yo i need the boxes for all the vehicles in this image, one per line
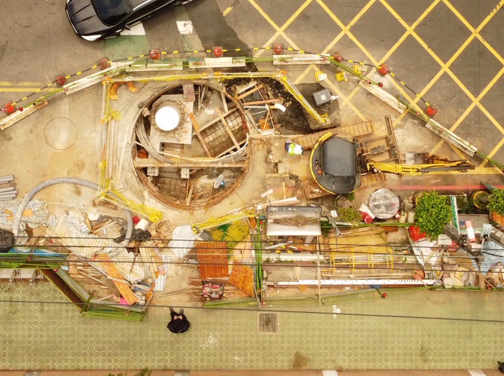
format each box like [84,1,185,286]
[65,0,199,40]
[297,116,475,200]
